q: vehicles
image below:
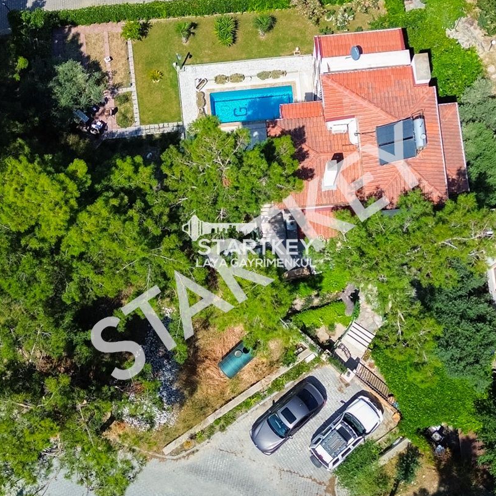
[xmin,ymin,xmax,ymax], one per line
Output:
[308,393,387,476]
[250,373,330,457]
